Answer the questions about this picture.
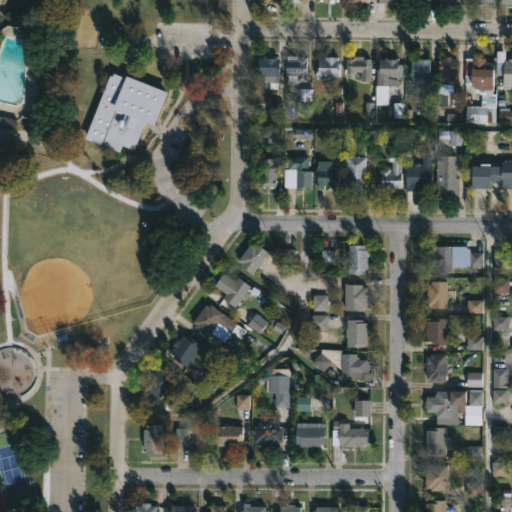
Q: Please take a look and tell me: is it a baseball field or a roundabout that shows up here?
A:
baseball field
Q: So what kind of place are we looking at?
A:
residential area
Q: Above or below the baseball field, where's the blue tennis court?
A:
below it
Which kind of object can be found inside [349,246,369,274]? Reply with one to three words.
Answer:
house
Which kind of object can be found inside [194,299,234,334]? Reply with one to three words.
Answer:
house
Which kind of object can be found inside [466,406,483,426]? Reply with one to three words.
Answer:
building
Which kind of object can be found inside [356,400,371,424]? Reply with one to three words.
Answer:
building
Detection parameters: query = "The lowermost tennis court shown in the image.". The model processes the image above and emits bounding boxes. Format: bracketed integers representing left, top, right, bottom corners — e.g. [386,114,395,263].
[0,433,34,504]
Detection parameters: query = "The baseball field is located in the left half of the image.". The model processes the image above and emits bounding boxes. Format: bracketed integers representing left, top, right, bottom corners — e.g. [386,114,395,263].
[22,258,94,335]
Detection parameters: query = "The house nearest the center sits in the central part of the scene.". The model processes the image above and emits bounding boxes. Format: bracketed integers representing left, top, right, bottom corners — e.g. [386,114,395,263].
[240,246,268,276]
